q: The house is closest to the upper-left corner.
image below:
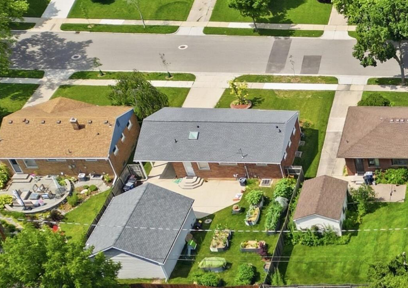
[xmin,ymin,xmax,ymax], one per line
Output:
[0,89,141,180]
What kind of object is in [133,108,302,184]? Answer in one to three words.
house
